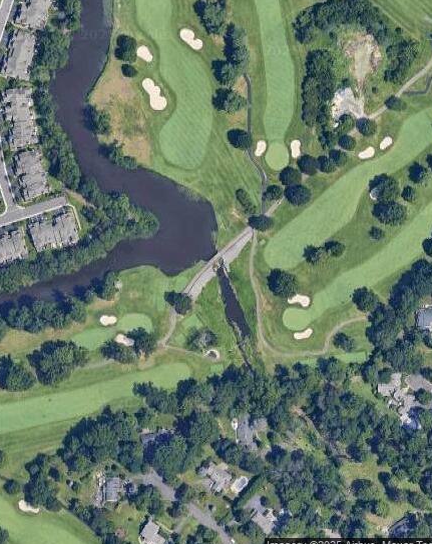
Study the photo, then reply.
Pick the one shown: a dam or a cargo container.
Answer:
dam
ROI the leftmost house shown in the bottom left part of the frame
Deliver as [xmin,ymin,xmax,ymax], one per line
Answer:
[102,477,125,502]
